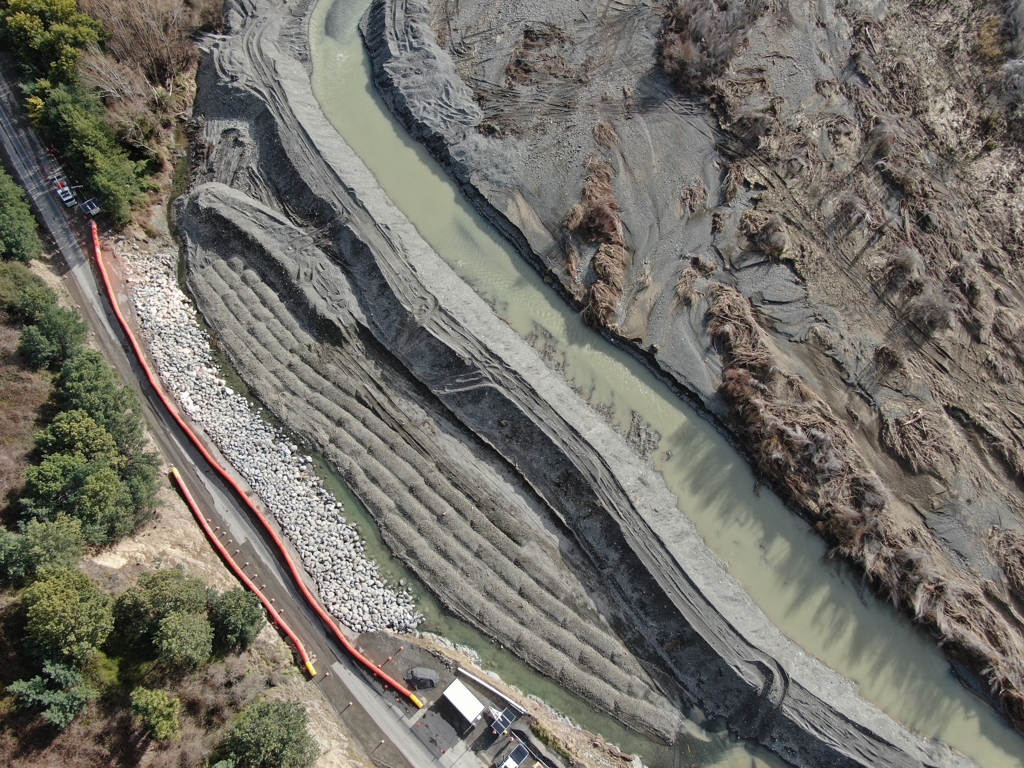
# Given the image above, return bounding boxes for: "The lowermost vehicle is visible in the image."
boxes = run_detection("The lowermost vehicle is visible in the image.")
[490,741,531,768]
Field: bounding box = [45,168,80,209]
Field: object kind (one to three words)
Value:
truck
